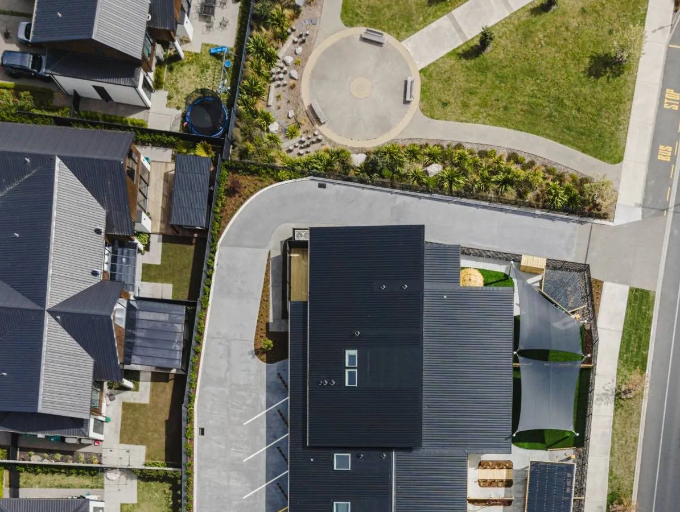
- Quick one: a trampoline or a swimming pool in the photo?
trampoline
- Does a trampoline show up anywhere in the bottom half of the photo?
No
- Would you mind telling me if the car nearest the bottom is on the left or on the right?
left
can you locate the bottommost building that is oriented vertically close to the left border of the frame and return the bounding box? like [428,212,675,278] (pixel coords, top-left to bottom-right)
[0,123,149,438]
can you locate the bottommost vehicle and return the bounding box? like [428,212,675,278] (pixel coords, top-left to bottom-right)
[0,53,58,89]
